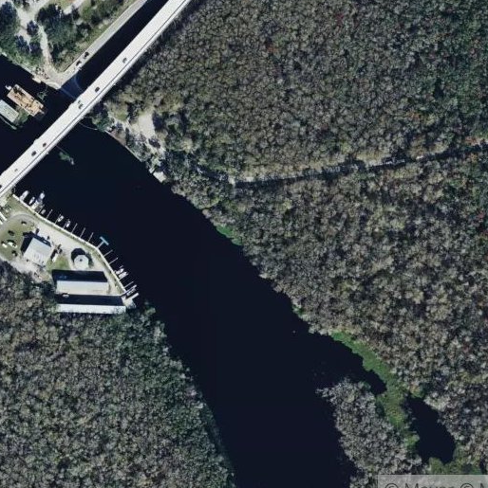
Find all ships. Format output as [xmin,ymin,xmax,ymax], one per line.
[9,86,43,117]
[0,100,19,122]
